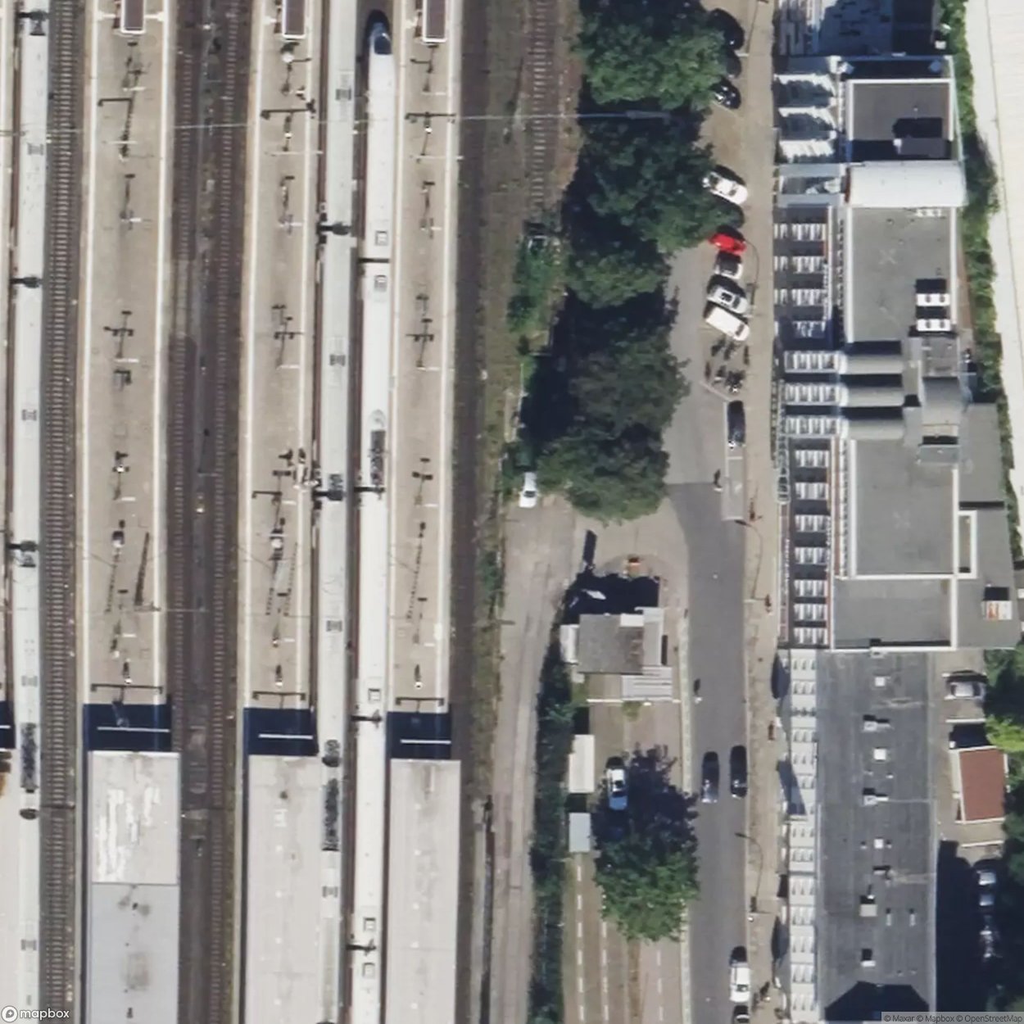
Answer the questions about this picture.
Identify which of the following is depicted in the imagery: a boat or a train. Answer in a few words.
train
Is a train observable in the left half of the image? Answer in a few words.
Yes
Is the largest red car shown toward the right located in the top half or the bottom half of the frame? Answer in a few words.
top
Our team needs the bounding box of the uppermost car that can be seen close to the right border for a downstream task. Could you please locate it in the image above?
[945,678,984,698]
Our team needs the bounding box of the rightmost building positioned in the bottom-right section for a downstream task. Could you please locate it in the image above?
[945,744,1007,824]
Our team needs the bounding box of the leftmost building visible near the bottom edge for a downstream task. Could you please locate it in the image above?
[781,650,937,1024]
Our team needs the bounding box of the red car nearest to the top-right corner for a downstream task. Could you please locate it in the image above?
[708,228,746,255]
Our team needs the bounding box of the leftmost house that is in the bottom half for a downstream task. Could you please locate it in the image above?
[554,608,667,679]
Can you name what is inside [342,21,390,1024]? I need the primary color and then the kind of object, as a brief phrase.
white train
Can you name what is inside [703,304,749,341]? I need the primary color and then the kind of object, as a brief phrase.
white vehicle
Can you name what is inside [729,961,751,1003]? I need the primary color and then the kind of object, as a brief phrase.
white car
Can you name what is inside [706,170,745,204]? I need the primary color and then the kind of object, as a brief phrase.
white car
